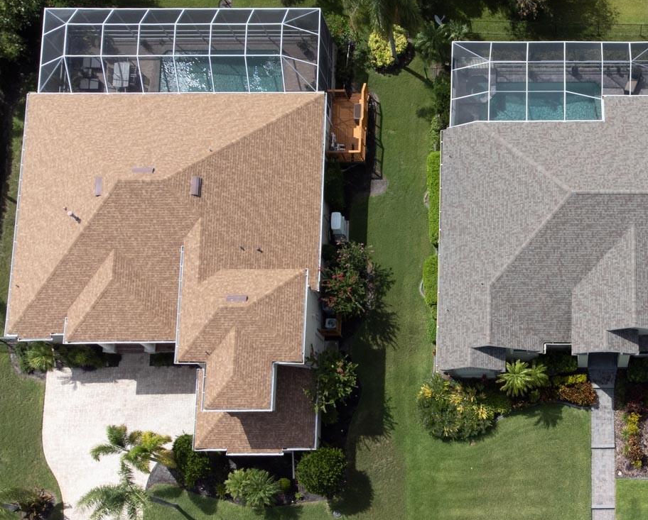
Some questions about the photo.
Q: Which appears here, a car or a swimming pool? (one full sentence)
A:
Of the two, only a swimming pool appears.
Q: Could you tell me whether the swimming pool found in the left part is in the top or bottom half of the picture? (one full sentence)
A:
The swimming pool found in the left part sits in the top half of the picture.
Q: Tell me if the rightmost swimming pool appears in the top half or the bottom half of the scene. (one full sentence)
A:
The rightmost swimming pool is in the top half of the image.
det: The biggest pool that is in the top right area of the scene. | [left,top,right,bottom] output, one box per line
[486,77,605,119]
